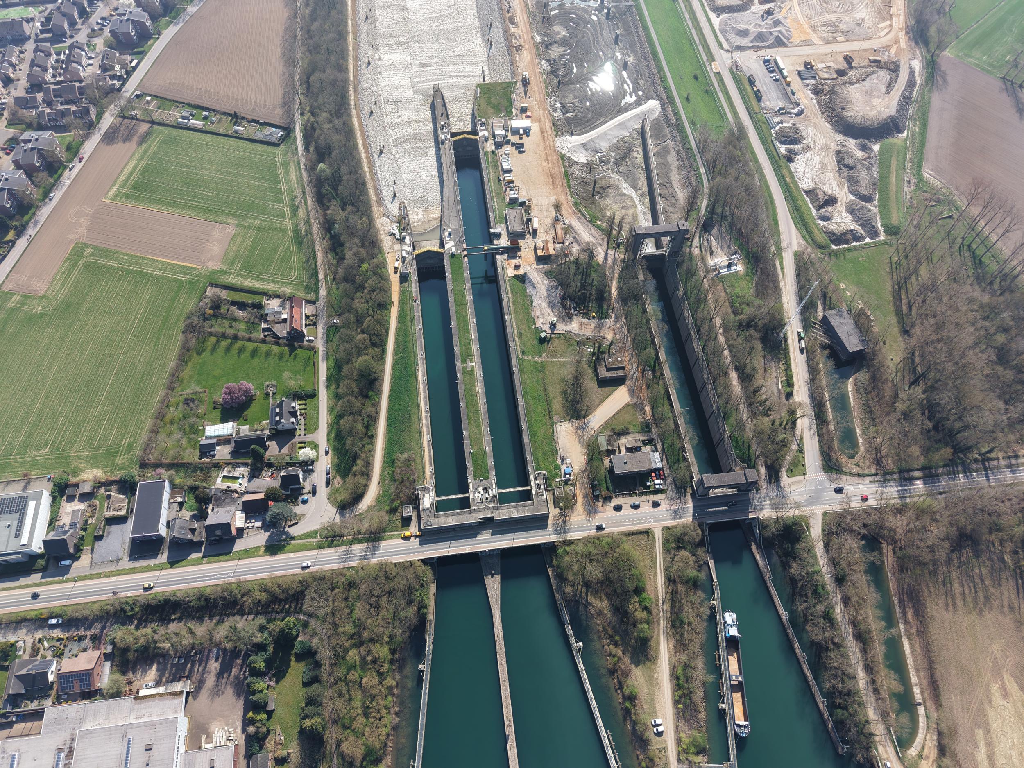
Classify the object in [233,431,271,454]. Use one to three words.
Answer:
barn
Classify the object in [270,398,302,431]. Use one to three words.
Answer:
house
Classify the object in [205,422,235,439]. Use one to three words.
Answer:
greenhouse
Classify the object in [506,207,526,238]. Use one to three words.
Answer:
building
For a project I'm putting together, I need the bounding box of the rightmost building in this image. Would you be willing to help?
[819,307,869,364]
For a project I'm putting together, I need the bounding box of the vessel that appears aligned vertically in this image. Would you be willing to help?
[725,611,757,738]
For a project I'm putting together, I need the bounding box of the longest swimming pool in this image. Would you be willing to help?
[218,473,241,485]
